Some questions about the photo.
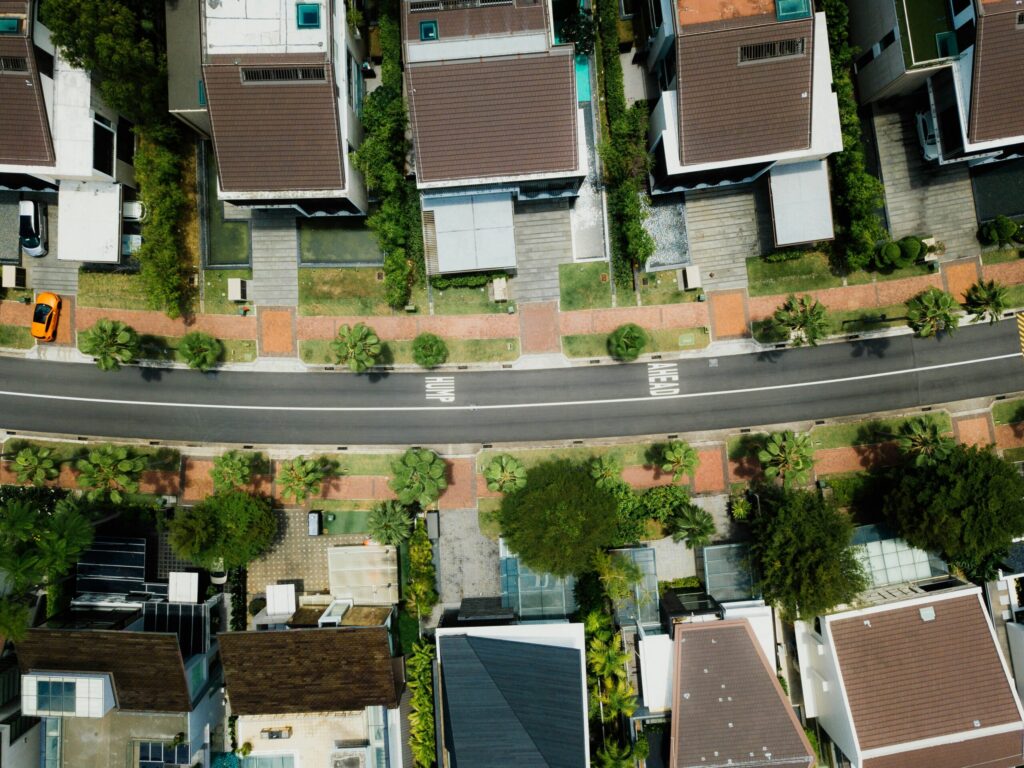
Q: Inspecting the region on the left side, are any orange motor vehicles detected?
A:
Yes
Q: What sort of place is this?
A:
residential area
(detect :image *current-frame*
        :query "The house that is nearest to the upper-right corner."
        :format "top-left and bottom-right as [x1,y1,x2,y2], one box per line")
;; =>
[854,0,1024,170]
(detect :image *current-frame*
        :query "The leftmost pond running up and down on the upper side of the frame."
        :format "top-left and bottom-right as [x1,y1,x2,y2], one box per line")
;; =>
[204,140,252,268]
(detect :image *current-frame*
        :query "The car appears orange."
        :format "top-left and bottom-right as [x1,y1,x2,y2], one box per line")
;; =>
[27,291,65,345]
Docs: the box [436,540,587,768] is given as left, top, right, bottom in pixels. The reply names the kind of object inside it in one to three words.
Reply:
house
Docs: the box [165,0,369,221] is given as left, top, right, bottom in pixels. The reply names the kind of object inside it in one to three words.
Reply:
house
